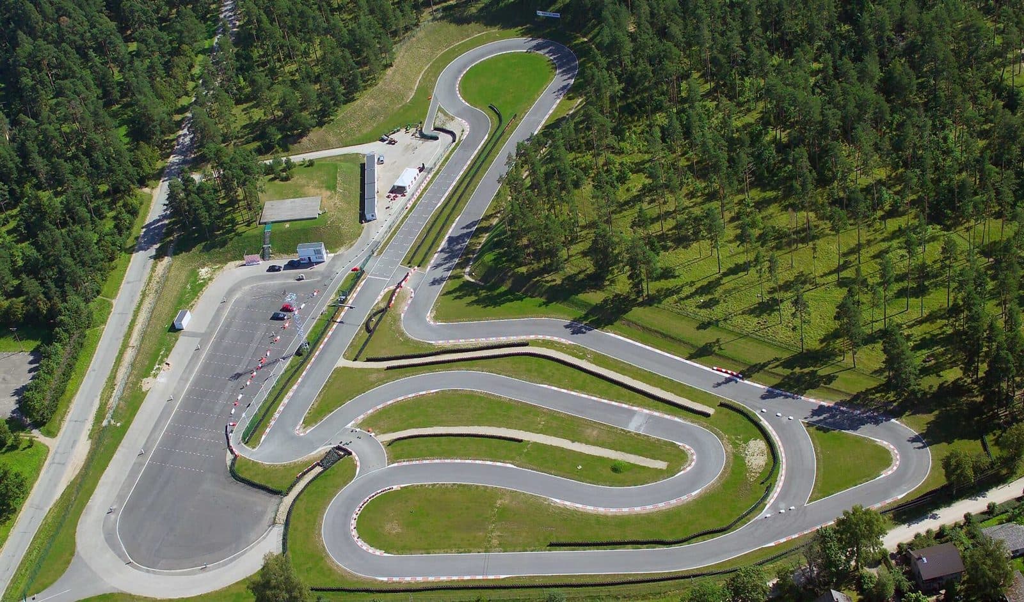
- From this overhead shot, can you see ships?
No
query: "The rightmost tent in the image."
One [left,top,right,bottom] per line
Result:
[395,166,419,191]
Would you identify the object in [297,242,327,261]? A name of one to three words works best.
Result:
building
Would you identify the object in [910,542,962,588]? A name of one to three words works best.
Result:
house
